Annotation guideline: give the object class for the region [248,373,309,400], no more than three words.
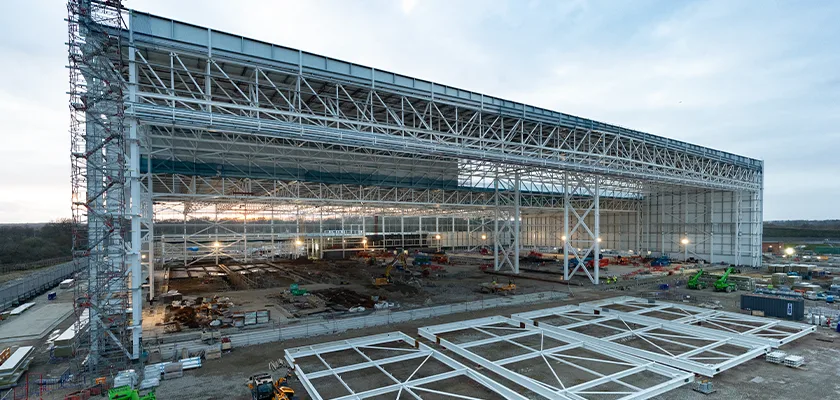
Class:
work vehicle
